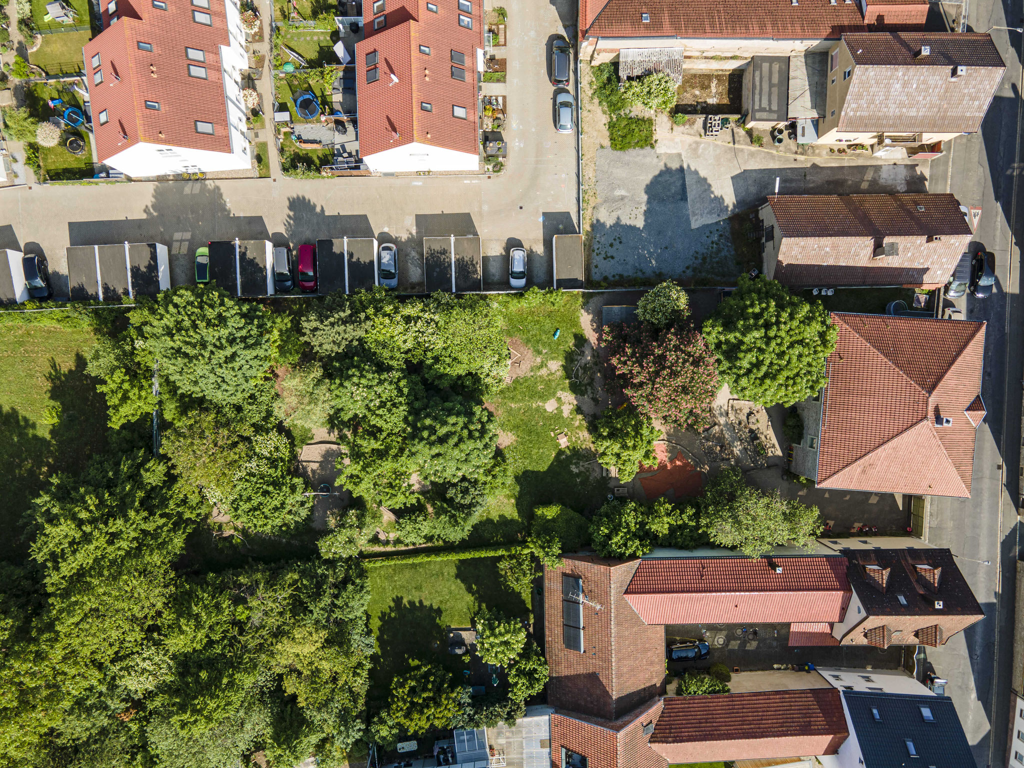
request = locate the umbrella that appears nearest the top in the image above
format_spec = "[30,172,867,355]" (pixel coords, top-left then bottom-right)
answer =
[333,41,355,65]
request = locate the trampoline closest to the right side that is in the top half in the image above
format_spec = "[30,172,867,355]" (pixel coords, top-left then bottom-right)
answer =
[287,84,319,118]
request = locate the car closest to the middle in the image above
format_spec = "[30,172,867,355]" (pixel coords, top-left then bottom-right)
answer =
[507,246,529,289]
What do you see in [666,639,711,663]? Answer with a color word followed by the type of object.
black car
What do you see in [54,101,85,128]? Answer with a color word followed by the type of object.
blue trampoline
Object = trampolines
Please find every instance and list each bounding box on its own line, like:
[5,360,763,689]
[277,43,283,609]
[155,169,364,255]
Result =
[59,130,87,154]
[287,84,319,118]
[54,101,85,128]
